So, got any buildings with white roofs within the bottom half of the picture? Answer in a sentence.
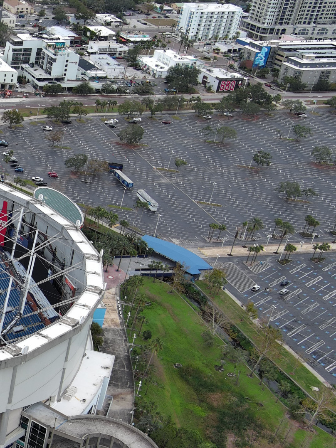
Yes, the scene does show a building with a white roof within the bottom half of the picture.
